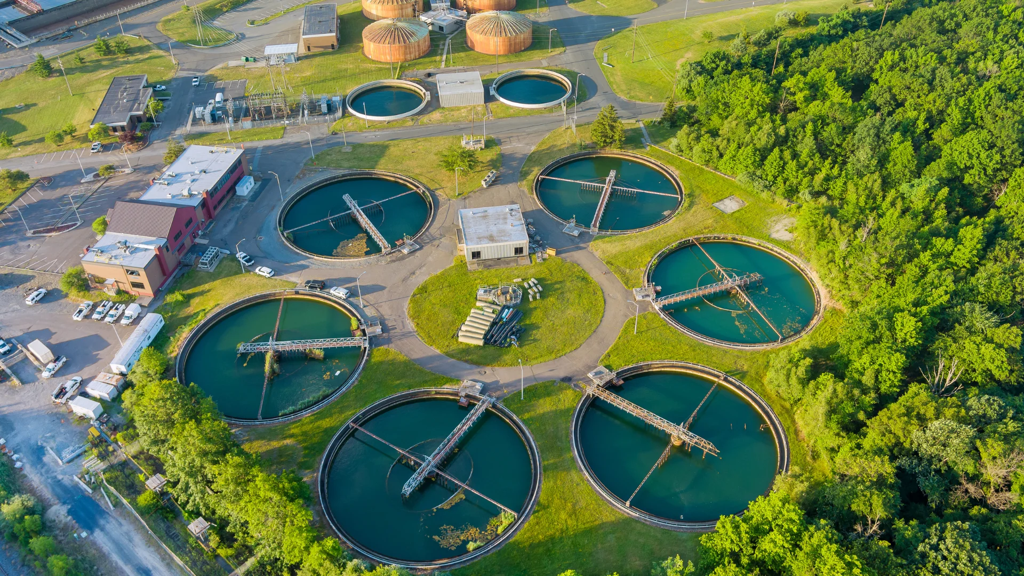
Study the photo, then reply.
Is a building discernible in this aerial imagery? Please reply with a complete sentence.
Yes, the image includes a building.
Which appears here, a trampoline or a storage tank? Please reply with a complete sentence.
Of the two, only a storage tank appears.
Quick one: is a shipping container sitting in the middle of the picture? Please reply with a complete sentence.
No, looking in the middle of the picture, there is no shipping container.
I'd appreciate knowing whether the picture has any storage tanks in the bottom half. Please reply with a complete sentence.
Yes, a storage tank can be seen in the bottom half.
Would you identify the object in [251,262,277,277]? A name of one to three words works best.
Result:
car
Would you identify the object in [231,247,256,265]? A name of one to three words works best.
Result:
vehicle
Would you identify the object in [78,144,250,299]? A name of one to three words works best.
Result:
building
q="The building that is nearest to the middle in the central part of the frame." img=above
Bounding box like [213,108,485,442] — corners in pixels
[456,204,529,267]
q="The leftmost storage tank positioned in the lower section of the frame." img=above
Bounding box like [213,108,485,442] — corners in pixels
[176,287,385,424]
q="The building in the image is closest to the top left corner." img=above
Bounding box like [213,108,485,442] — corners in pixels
[91,74,155,136]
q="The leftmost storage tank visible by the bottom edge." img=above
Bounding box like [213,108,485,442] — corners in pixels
[320,377,538,567]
